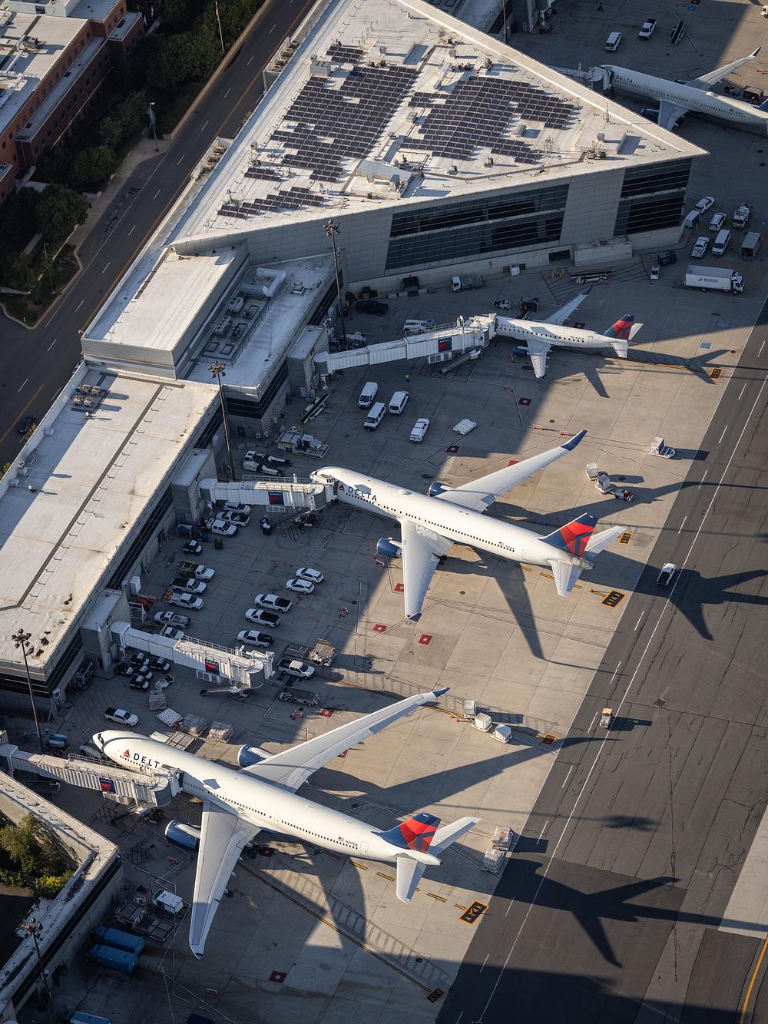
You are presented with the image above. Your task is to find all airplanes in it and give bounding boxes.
[470,281,644,378]
[310,430,626,616]
[596,42,768,133]
[91,681,478,953]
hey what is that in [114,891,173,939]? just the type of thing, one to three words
work vehicle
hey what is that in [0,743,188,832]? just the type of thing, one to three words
jet bridge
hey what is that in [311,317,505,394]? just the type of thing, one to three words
jet bridge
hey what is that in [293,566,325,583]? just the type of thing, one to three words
car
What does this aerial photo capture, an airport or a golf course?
airport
